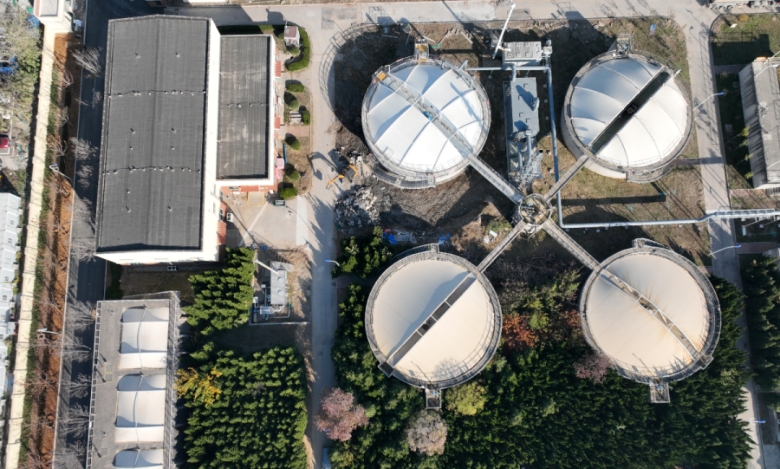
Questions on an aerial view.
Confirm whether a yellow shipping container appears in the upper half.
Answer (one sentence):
No, I can find no yellow shipping container in the upper half.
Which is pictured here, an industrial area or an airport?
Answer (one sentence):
The area seen from above is an industrial area.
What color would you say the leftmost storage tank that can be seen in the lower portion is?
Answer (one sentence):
The color of the leftmost storage tank that can be seen in the lower portion is white.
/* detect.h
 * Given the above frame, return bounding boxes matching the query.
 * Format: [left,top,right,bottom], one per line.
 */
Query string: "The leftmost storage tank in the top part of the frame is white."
[362,35,491,195]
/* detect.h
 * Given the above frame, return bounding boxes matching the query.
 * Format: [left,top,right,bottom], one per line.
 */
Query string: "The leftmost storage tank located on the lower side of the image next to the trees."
[366,244,503,409]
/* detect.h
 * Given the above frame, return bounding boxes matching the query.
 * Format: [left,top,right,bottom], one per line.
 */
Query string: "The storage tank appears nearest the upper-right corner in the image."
[558,36,696,191]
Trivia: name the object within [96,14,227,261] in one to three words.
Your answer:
building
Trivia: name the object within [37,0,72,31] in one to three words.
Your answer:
building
